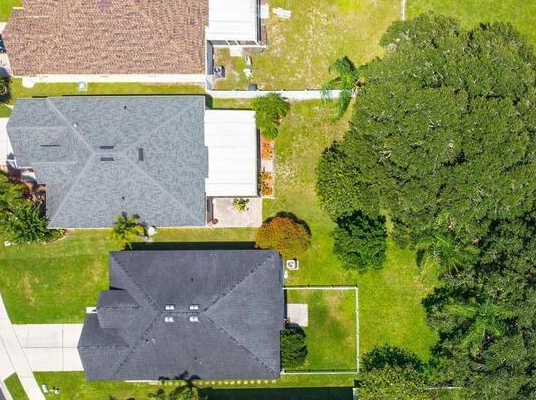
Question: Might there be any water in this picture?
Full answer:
No, water can't be seen anywhere here.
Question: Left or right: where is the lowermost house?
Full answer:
It is on the left.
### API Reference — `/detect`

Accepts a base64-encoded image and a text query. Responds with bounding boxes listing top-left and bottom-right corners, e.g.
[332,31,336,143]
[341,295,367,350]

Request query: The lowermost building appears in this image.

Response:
[77,250,285,384]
